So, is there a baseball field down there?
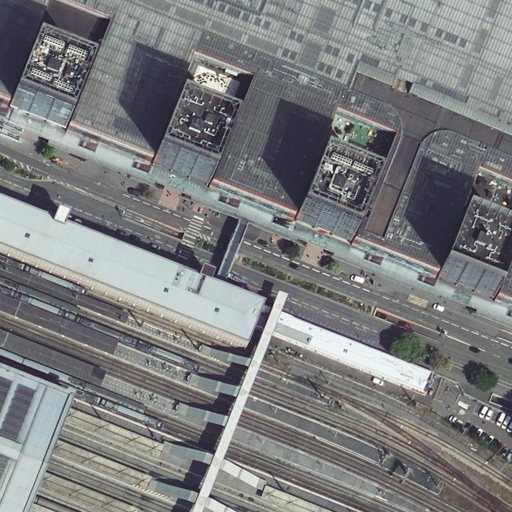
No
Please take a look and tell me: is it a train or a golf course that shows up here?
train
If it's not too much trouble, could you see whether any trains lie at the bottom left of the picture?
Yes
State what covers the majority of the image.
buildings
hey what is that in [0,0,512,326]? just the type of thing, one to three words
building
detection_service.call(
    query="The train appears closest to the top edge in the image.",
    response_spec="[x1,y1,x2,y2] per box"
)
[0,254,87,296]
